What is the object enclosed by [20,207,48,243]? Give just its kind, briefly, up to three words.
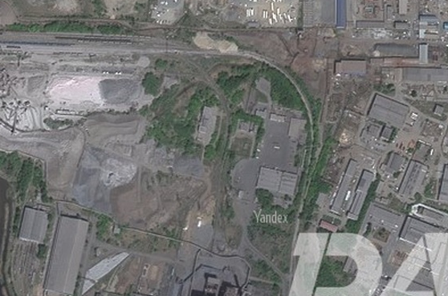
building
